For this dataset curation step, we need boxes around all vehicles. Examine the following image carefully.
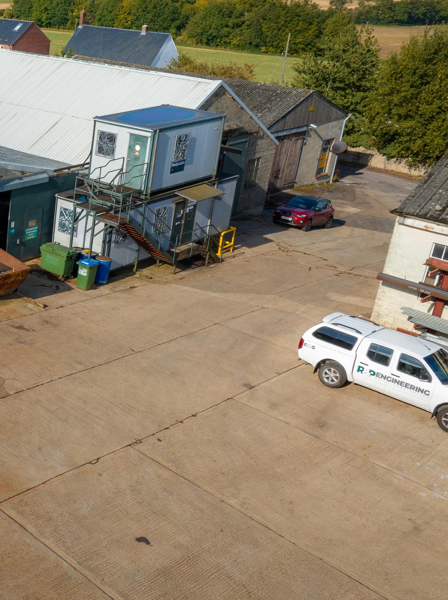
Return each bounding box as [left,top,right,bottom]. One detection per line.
[274,194,338,231]
[292,308,448,435]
